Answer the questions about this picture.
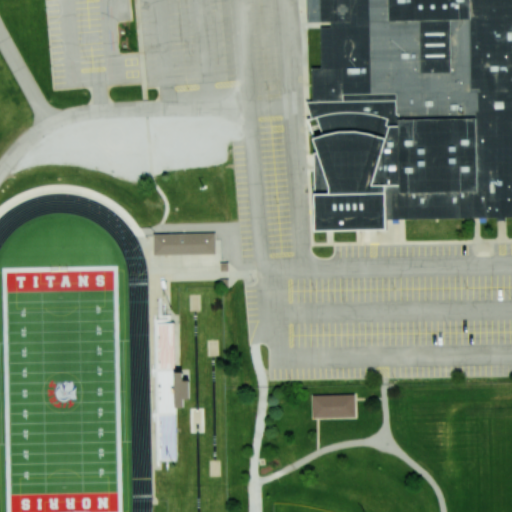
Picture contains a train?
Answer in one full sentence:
No, I can see no train in this picture.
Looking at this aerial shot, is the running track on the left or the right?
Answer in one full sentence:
You can find the running track on the left side of the picture.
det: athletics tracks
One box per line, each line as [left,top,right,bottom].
[0,184,160,512]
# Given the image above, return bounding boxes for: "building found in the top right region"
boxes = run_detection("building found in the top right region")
[308,0,512,230]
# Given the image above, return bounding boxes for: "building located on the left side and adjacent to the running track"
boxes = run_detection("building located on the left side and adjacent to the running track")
[154,233,215,255]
